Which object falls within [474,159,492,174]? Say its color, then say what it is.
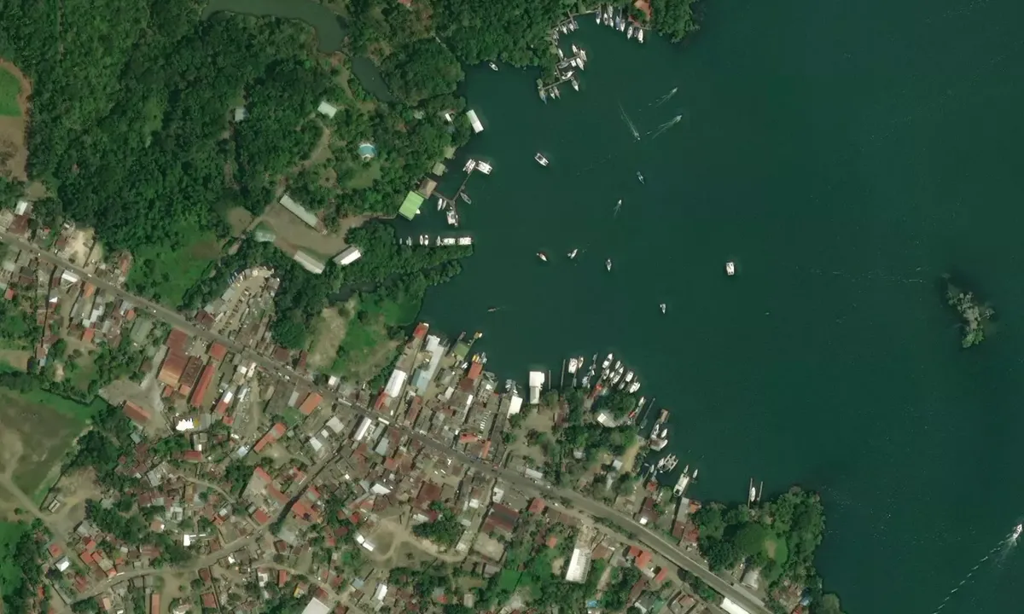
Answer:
white boat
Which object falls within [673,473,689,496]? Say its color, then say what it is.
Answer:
white ship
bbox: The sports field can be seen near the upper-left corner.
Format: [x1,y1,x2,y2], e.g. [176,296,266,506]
[0,58,32,133]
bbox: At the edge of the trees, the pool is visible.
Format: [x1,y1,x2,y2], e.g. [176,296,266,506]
[358,143,376,159]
